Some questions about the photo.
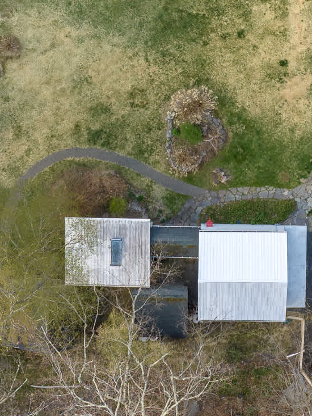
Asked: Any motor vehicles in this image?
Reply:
No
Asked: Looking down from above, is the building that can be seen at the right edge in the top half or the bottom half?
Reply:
bottom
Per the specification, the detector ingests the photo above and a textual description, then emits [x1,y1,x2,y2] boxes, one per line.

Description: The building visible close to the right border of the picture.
[197,220,306,323]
